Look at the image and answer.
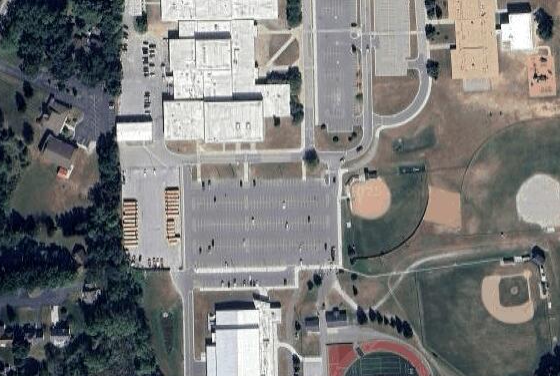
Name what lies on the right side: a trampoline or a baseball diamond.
baseball diamond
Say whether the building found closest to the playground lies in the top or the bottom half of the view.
top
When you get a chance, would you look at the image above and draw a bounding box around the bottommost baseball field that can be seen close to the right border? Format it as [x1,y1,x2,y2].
[482,269,534,324]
